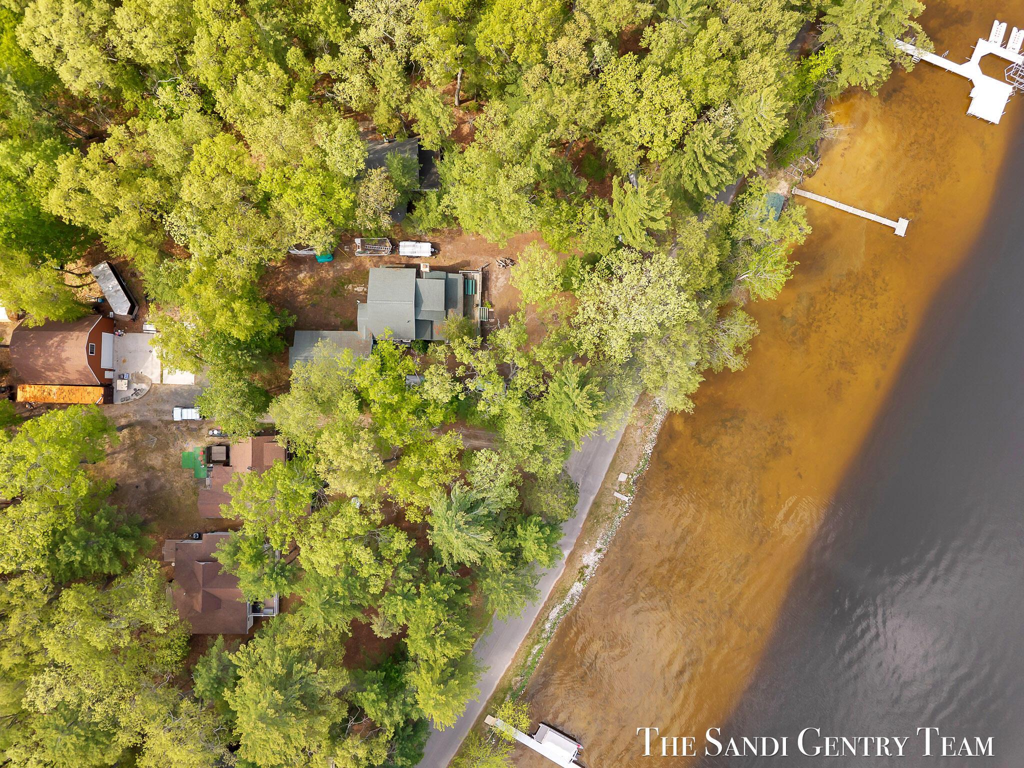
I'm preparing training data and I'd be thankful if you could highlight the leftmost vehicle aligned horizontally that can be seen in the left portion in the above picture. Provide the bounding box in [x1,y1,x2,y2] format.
[171,407,204,422]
